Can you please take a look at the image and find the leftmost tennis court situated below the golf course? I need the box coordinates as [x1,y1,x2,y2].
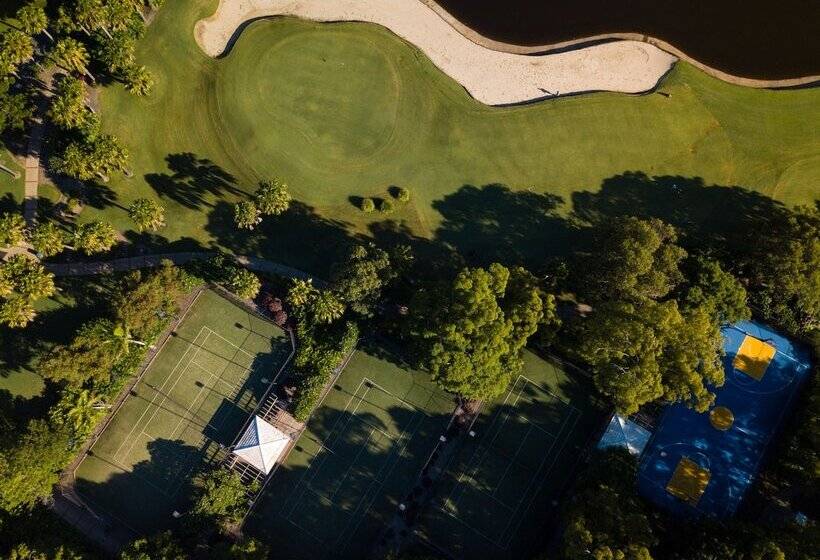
[71,288,296,551]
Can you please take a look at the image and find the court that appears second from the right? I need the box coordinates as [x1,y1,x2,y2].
[406,341,603,560]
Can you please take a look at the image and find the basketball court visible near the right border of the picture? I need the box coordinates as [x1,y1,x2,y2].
[629,304,818,538]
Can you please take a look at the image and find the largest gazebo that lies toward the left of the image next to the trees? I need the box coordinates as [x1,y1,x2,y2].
[232,416,291,475]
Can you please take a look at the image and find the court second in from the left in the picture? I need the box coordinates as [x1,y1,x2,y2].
[239,337,458,560]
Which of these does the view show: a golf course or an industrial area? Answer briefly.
golf course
